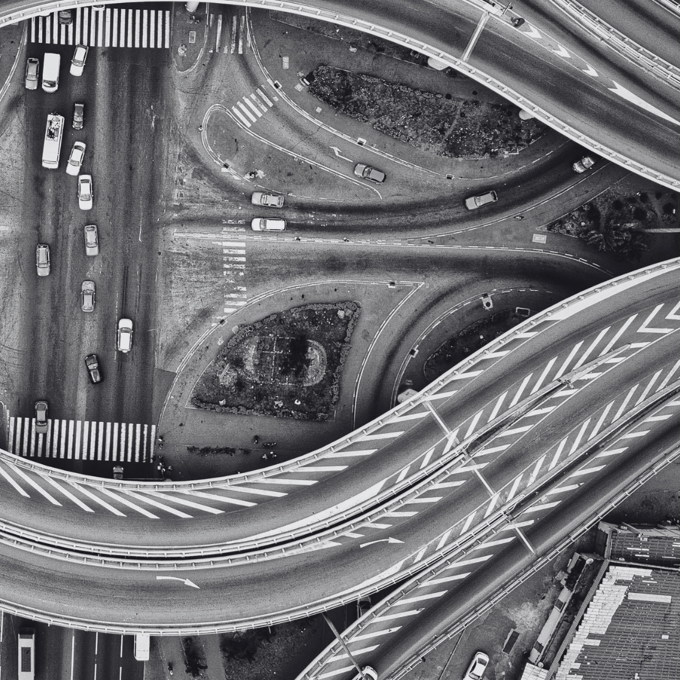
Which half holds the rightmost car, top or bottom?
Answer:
top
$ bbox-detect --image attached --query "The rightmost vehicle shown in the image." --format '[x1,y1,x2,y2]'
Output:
[569,152,601,174]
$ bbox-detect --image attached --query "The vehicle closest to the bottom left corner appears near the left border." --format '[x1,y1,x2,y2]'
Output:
[18,626,36,680]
